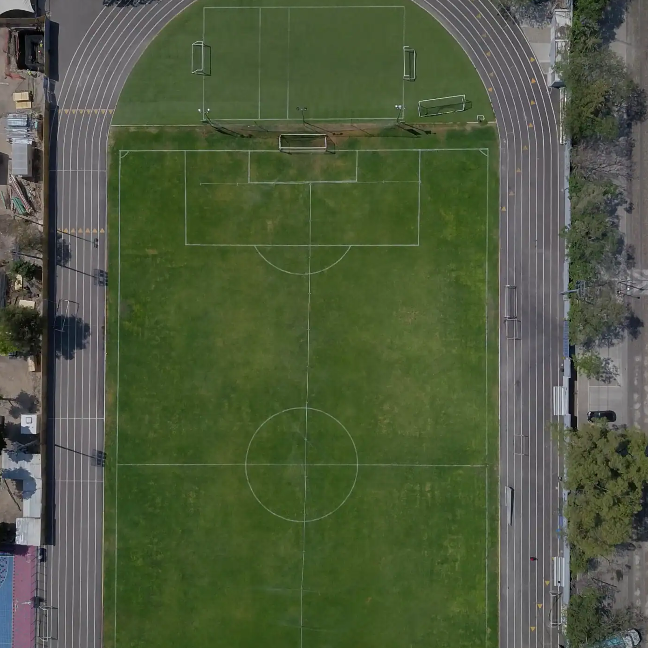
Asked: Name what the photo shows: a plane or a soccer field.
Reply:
soccer field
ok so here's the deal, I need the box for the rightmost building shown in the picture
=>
[549,9,571,84]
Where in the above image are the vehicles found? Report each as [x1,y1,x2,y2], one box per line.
[584,625,639,648]
[587,410,617,424]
